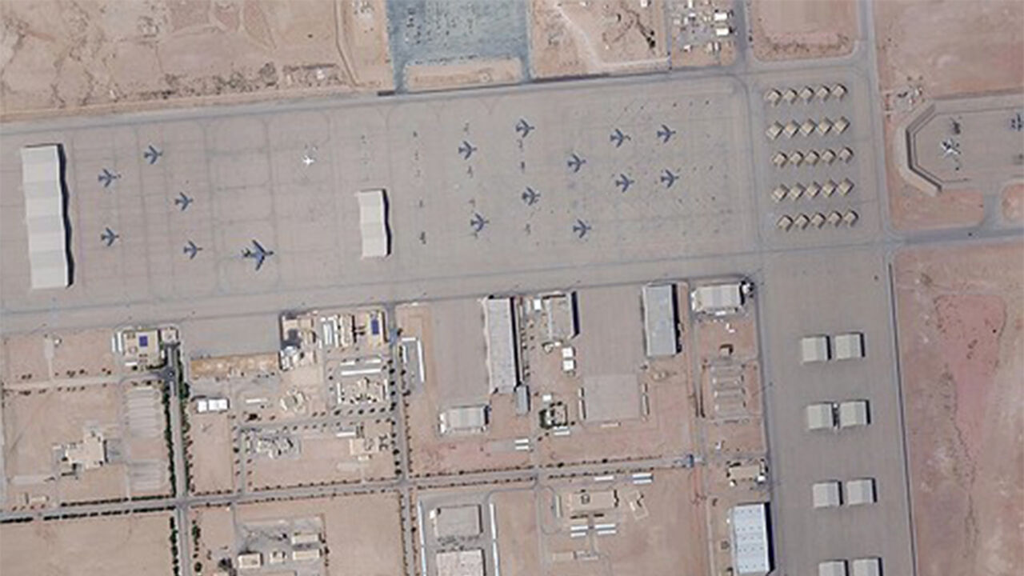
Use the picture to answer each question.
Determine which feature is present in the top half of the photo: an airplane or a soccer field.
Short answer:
airplane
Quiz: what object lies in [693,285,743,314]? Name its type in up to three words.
hangar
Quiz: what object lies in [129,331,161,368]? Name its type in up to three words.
building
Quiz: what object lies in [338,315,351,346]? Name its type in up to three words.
building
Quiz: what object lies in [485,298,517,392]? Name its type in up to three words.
hangar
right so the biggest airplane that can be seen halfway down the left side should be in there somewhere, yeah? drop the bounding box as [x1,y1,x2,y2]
[240,239,272,270]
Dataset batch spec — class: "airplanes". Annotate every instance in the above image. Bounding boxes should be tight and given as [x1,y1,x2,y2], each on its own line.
[184,240,202,259]
[572,220,591,238]
[515,119,534,137]
[99,168,117,187]
[100,228,119,246]
[610,129,629,147]
[175,192,194,210]
[470,213,489,232]
[657,125,676,143]
[303,155,314,166]
[567,154,586,173]
[615,174,633,192]
[143,146,162,164]
[660,170,679,188]
[459,140,477,159]
[521,187,540,205]
[240,239,272,270]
